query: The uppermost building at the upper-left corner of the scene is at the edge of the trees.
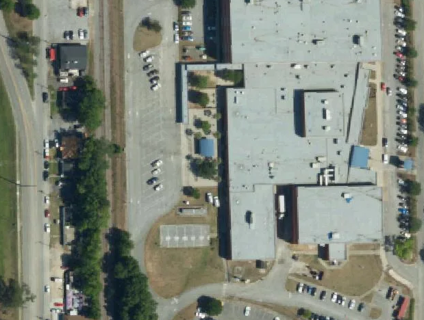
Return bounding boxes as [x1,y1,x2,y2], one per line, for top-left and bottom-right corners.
[57,45,87,70]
